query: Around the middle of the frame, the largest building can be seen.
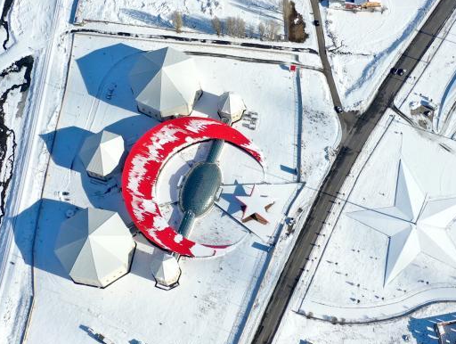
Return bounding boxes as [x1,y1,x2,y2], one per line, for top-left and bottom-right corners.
[117,111,268,261]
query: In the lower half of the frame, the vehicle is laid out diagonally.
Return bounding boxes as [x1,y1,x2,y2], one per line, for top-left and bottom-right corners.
[87,328,115,344]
